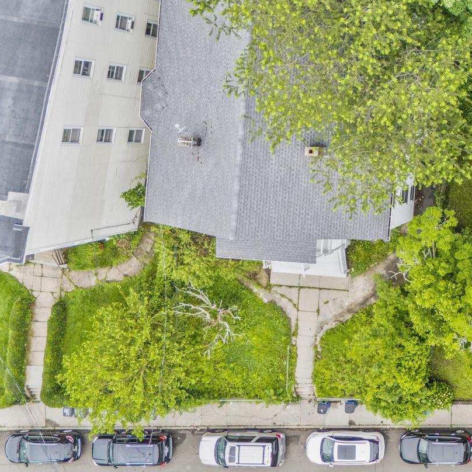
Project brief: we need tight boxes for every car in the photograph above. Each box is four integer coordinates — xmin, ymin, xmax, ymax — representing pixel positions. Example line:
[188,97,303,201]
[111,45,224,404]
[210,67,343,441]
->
[400,429,472,470]
[91,430,176,472]
[199,429,289,472]
[306,429,387,471]
[7,429,86,468]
